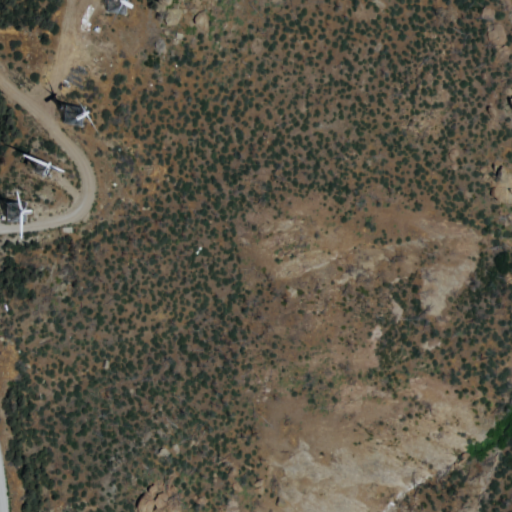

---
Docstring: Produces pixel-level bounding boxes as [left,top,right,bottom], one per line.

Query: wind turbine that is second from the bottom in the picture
[24,153,64,178]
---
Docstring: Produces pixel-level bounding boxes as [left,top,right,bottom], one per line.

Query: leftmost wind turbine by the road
[8,188,34,237]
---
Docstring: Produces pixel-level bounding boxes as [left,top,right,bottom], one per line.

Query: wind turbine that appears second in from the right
[64,98,100,137]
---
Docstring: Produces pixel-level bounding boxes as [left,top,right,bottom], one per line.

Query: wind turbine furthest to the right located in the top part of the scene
[108,0,135,24]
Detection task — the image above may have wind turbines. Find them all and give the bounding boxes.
[24,153,64,178]
[64,98,100,137]
[108,0,135,24]
[8,188,34,237]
